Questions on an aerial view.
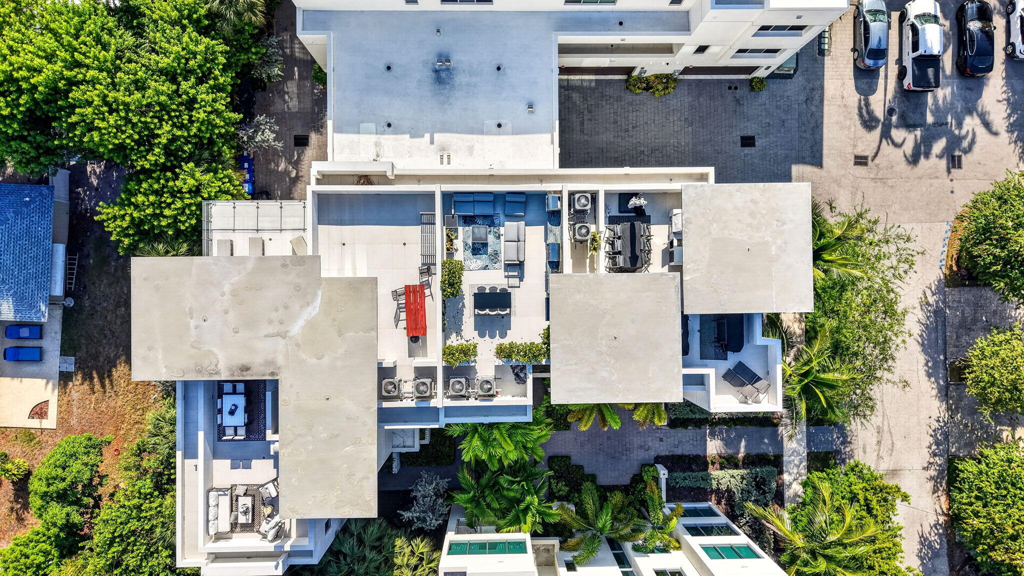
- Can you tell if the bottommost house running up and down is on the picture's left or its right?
left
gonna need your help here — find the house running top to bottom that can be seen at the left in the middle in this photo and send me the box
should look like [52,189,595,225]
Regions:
[0,172,69,322]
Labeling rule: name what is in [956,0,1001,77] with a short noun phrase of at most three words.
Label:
car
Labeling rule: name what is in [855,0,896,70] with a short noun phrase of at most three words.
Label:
car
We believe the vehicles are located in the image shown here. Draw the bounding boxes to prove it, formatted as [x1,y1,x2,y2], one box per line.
[956,0,1001,77]
[899,0,946,91]
[855,0,896,70]
[1007,0,1024,64]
